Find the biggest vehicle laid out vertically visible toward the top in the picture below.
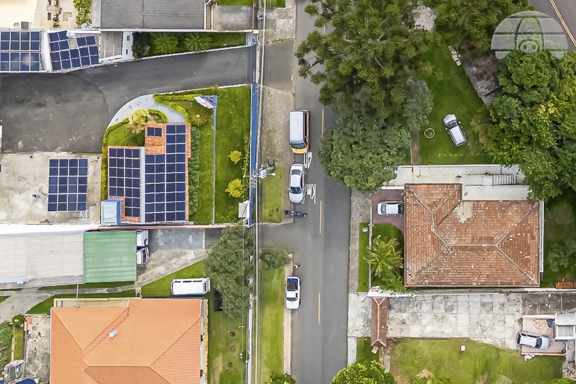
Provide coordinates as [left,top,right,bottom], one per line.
[291,111,309,151]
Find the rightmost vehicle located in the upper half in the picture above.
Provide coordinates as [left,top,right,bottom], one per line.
[444,113,466,146]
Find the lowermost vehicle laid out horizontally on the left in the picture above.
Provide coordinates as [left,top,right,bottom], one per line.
[170,278,210,296]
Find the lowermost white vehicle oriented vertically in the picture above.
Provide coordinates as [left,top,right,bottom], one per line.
[284,274,302,310]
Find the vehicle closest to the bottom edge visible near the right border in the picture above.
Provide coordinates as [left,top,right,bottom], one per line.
[517,331,550,350]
